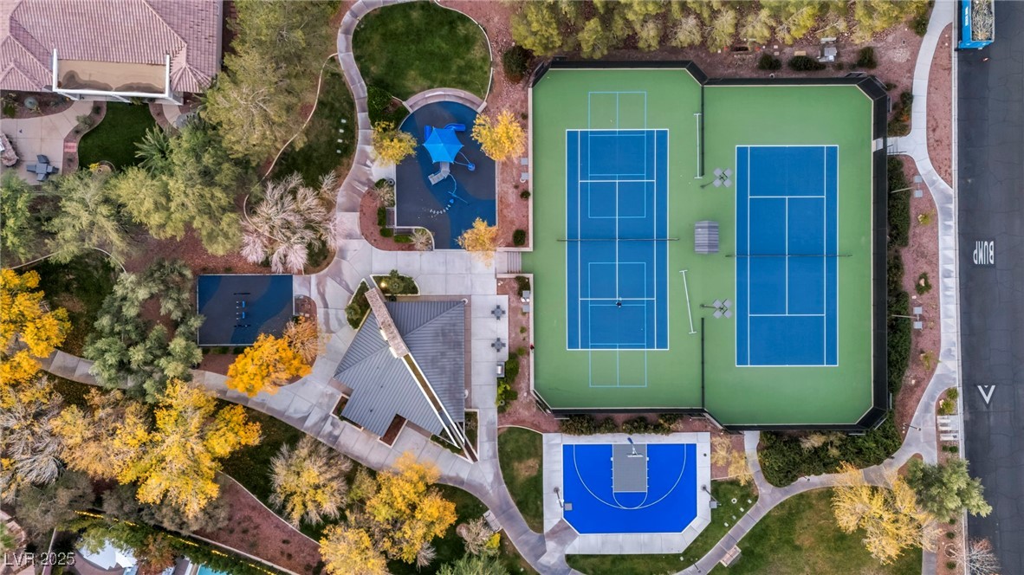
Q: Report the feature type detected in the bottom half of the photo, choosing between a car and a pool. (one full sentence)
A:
What appears in the bottom half of the photo is a pool.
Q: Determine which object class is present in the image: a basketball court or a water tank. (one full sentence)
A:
Of the two, only a basketball court appears.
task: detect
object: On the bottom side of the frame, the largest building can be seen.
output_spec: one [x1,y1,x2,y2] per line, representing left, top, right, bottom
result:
[331,288,477,461]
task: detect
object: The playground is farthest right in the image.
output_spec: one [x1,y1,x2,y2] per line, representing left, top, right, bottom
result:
[393,101,498,251]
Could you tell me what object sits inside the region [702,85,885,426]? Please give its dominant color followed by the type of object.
green tennis court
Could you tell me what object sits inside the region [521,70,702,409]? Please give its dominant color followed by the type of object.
green tennis court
